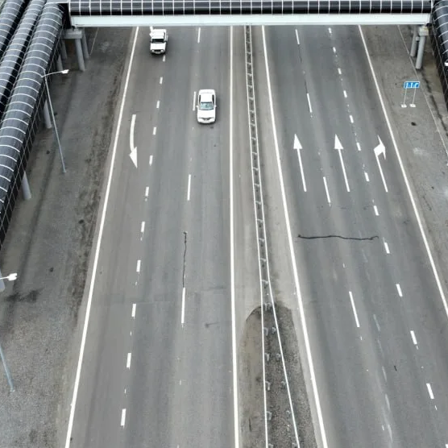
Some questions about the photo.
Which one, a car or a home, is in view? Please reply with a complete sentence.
I can see a car in this picture.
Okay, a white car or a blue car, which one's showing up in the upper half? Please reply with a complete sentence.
Visible in the upper half is a white car.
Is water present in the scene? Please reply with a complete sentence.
No, the picture contains no water.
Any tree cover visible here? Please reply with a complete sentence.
No, there is no tree cover in the image.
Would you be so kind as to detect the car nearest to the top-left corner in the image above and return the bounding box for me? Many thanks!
[148,28,168,55]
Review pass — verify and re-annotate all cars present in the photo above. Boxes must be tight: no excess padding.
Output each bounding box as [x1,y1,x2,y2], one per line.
[195,89,217,123]
[148,28,168,55]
